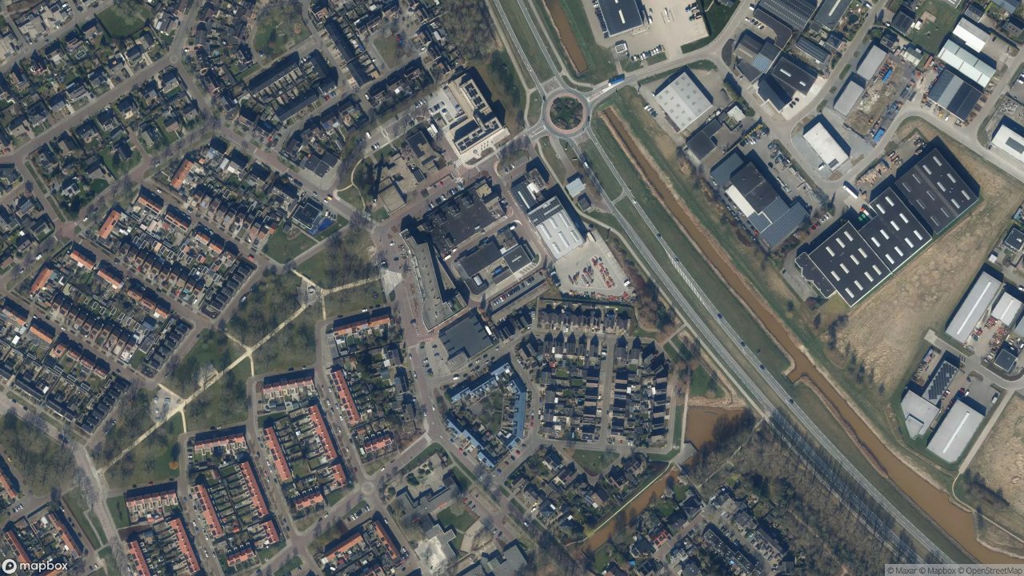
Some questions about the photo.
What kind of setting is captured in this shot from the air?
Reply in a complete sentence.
This image shows a residential area.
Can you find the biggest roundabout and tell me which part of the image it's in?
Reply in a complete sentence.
The biggest roundabout is in the top part of the image.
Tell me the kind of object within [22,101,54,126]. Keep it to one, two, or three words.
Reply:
house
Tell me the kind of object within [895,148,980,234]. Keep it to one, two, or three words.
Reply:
building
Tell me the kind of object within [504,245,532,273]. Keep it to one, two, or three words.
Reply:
building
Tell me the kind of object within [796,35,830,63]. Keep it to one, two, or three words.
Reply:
barn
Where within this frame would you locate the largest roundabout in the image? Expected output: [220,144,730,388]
[541,87,591,137]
